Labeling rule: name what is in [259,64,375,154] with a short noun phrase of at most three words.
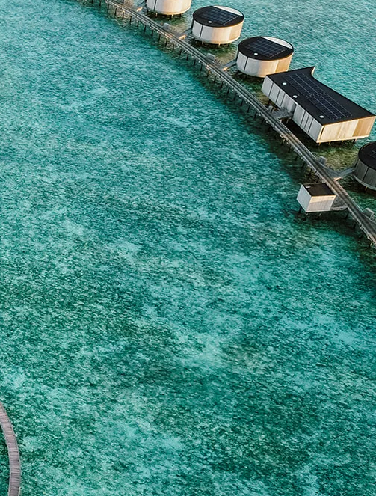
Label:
house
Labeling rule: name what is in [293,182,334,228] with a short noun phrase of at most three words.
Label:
shed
